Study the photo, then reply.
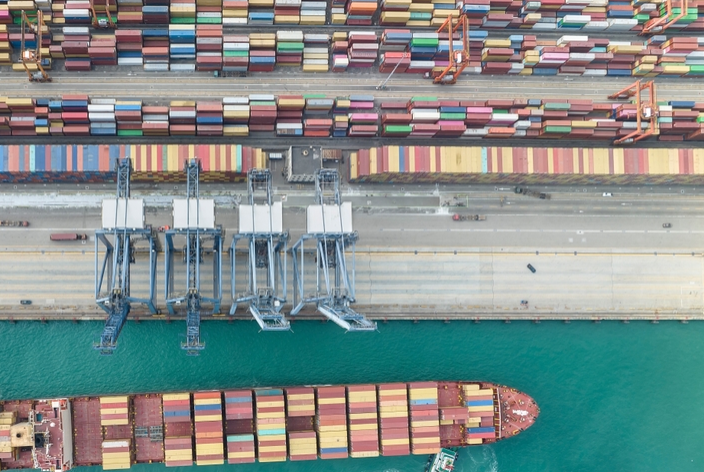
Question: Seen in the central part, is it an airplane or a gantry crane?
gantry crane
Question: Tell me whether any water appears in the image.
Yes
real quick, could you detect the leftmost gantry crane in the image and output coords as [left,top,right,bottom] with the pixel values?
[20,10,54,79]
